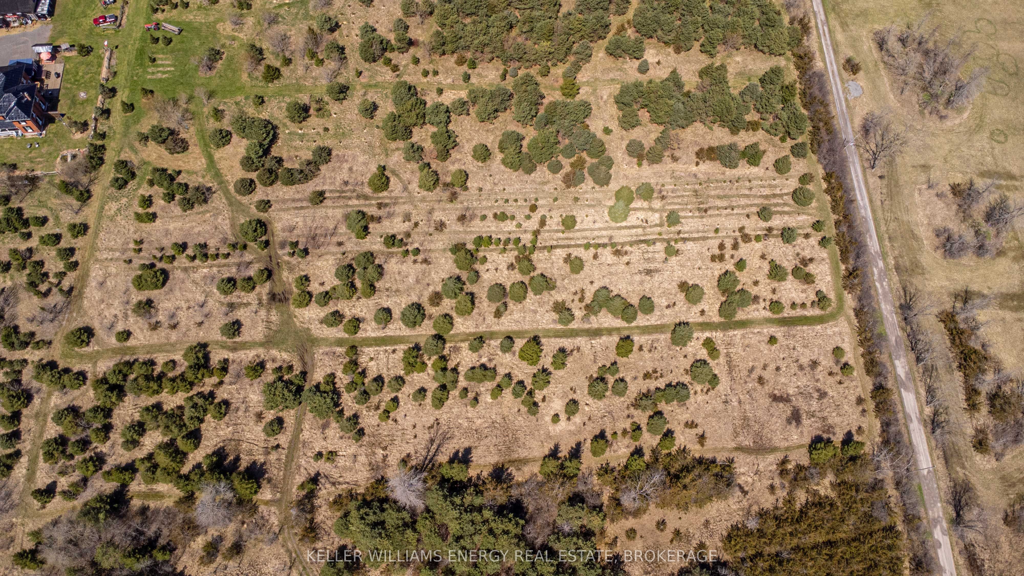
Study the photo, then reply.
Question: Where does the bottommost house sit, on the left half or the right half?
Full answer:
The bottommost house sits on the left side.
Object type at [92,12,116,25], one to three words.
vehicle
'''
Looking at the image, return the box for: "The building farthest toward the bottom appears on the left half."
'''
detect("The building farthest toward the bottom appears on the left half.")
[0,59,50,141]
